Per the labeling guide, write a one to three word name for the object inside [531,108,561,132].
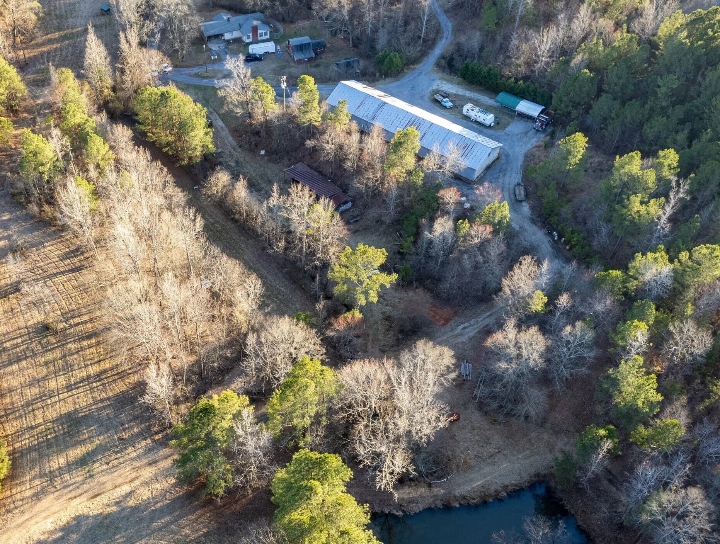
truck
